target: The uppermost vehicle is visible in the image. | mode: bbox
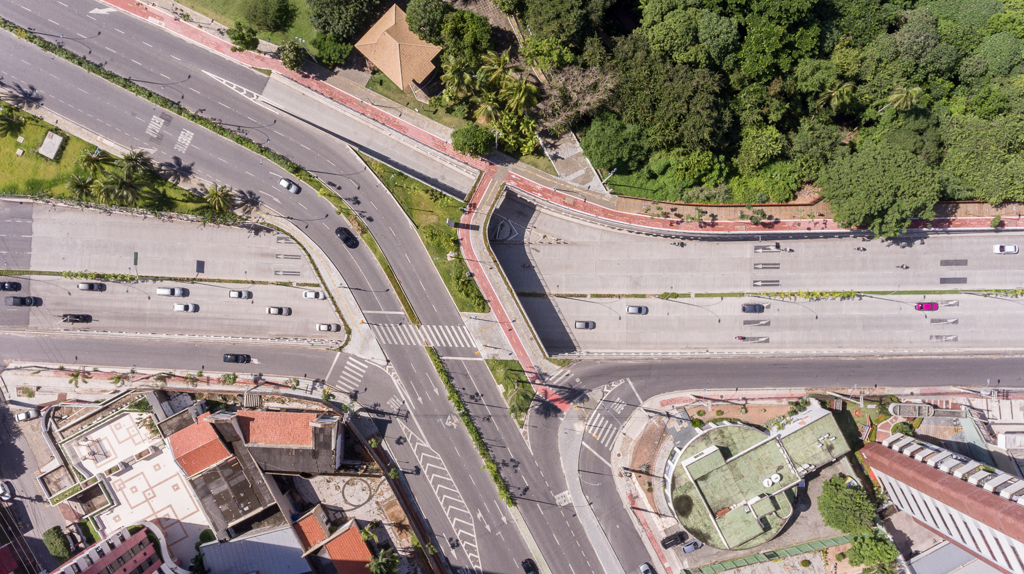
[277,176,300,194]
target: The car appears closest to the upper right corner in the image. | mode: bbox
[992,243,1019,255]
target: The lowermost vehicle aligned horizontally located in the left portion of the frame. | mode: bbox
[13,409,40,422]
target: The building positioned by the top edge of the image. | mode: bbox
[354,3,442,89]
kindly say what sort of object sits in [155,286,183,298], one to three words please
vehicle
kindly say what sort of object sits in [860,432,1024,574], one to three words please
building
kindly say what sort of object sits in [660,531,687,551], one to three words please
car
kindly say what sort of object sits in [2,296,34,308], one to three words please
vehicle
